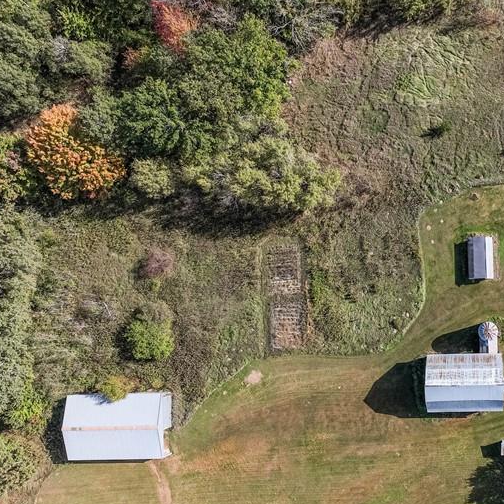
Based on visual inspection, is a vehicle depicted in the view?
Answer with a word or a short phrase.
No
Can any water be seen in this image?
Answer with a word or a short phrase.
No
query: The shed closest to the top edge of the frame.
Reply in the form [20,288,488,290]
[468,236,494,280]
